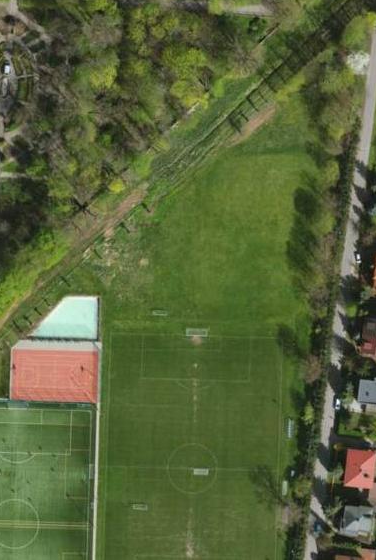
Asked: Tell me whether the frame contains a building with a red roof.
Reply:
Yes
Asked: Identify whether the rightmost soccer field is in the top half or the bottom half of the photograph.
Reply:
bottom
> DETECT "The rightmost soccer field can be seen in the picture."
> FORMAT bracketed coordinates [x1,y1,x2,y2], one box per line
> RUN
[97,327,289,560]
